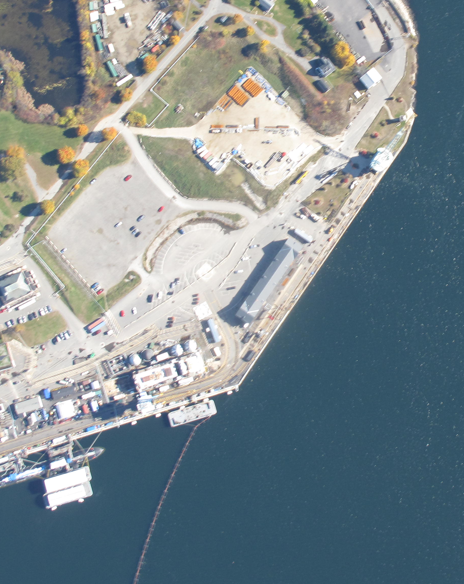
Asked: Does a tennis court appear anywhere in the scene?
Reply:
No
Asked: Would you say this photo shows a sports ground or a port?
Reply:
port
